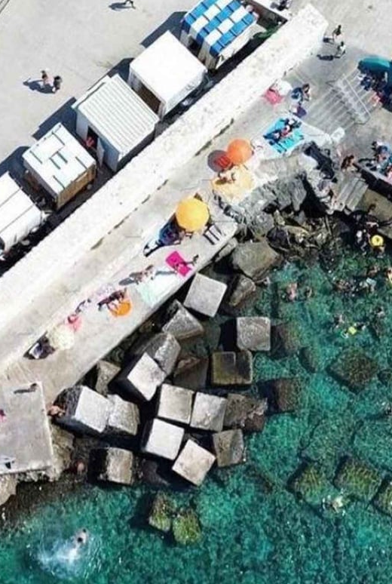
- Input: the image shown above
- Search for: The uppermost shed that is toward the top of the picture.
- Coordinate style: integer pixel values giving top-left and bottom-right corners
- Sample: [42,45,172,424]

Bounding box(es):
[178,0,259,74]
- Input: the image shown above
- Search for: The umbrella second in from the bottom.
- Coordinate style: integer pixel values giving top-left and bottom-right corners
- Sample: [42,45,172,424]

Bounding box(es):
[170,199,209,236]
